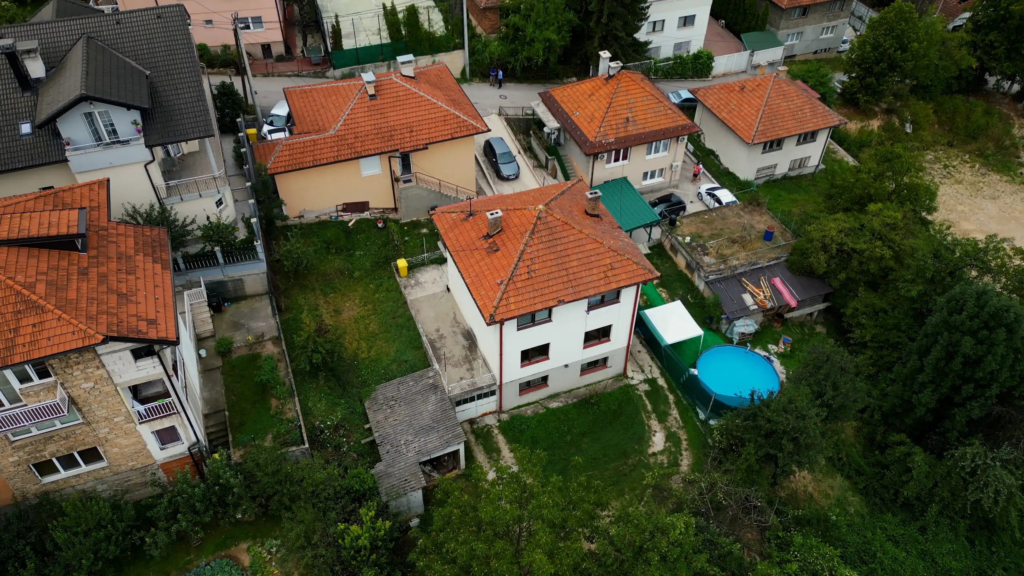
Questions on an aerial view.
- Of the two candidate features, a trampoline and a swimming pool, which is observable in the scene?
swimming pool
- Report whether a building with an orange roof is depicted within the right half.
Yes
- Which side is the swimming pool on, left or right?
right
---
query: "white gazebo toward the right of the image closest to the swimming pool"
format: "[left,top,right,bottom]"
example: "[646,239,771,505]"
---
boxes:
[642,301,705,360]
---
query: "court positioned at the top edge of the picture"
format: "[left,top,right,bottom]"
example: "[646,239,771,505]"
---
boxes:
[318,0,447,67]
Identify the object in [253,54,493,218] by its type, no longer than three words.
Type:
house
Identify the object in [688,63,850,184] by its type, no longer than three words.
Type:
house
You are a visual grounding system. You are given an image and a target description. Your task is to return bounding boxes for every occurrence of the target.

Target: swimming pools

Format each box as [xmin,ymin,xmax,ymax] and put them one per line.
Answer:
[694,341,782,425]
